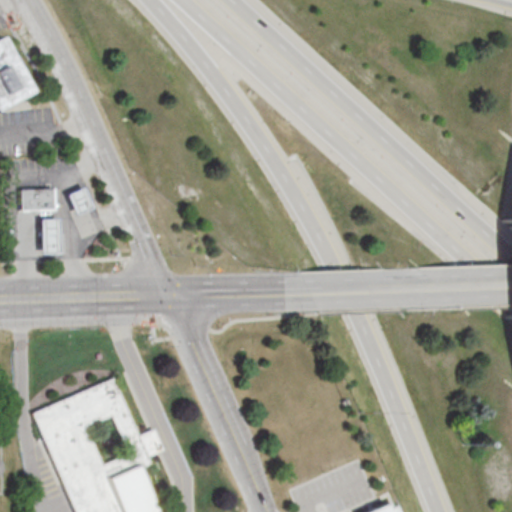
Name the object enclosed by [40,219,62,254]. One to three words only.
shed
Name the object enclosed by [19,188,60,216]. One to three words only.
building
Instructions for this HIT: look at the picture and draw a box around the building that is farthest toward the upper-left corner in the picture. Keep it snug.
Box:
[0,36,40,110]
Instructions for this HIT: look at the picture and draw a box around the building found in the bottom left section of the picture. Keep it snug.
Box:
[30,378,173,512]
